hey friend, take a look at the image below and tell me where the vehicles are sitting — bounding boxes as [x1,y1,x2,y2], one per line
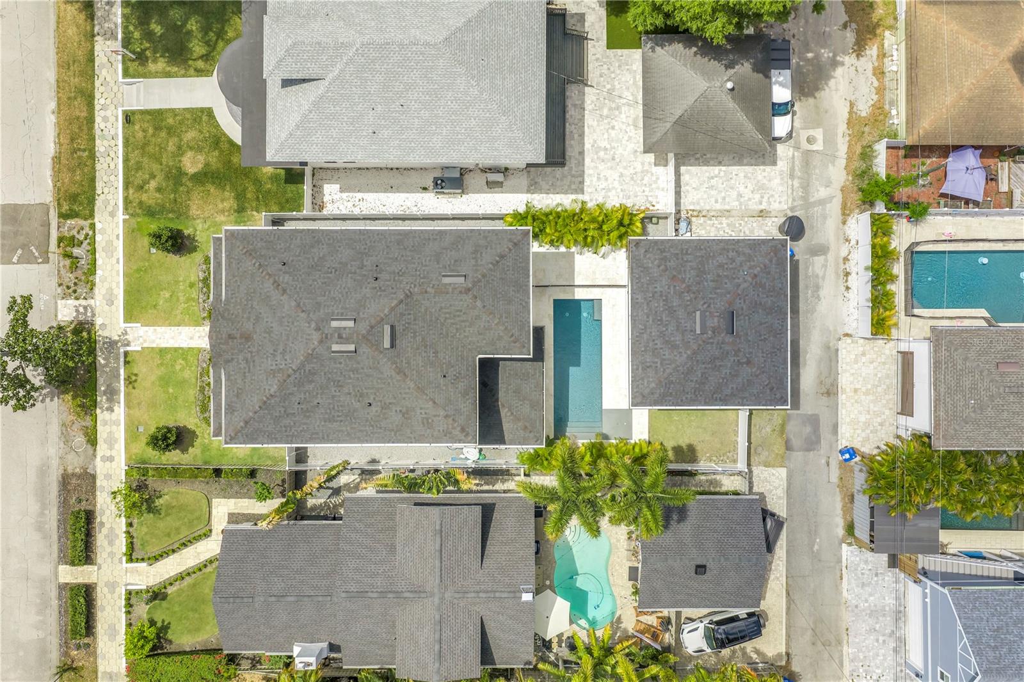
[773,39,798,142]
[762,510,792,552]
[678,611,765,654]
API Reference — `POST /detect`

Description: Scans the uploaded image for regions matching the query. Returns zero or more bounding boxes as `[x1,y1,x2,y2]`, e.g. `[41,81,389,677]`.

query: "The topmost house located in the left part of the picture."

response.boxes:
[216,0,547,178]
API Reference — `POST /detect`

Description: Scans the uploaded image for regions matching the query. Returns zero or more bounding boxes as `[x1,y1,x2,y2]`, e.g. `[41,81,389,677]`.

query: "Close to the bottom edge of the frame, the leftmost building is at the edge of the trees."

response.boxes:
[211,492,536,682]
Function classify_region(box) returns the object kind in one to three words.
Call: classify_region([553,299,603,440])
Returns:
swimming pool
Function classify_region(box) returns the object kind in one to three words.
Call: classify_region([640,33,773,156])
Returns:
building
